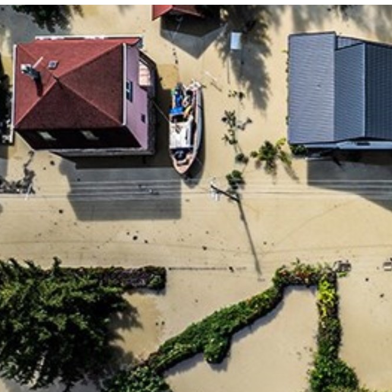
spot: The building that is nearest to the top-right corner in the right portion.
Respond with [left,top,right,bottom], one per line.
[288,32,392,161]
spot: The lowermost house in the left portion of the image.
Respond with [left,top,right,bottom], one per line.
[13,37,157,157]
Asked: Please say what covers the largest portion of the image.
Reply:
water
